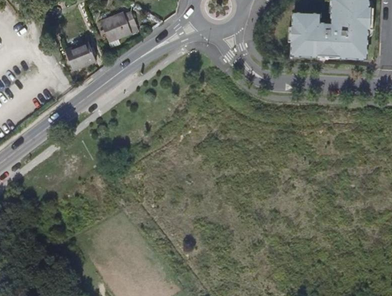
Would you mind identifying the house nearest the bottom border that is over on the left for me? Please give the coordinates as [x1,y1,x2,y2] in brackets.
[70,44,98,72]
